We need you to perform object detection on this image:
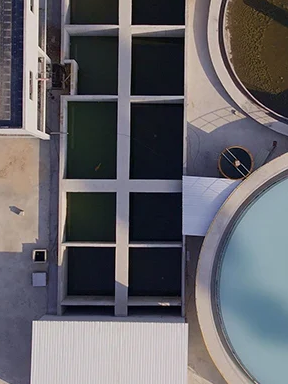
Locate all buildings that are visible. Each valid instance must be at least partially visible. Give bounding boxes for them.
[0,0,51,139]
[32,311,187,384]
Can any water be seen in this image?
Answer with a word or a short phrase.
Yes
